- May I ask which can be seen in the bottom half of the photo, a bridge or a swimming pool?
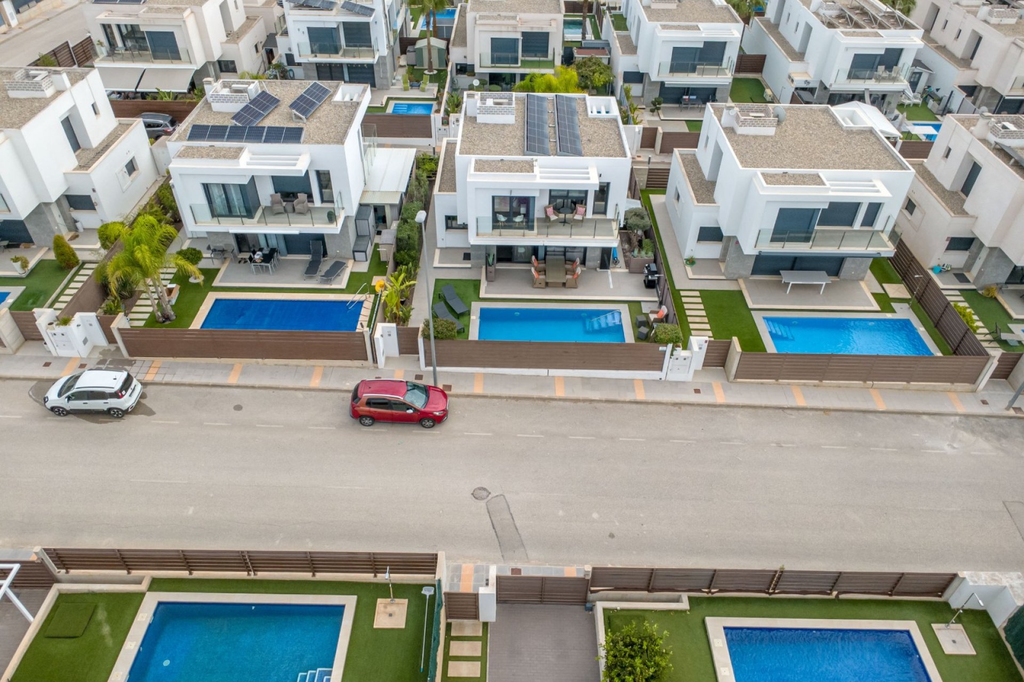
swimming pool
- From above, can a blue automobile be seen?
No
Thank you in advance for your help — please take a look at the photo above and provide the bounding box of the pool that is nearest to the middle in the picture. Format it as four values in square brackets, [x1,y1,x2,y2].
[469,302,636,343]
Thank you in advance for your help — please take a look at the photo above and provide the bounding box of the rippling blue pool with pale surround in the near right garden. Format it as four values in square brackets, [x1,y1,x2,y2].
[707,617,942,682]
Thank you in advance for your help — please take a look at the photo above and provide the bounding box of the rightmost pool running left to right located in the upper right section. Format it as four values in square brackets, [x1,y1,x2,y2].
[900,121,945,137]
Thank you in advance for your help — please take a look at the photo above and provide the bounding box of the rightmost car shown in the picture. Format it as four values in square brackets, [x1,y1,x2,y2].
[346,378,450,430]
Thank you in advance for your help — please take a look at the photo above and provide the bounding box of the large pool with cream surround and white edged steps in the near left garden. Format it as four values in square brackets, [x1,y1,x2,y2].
[108,591,357,682]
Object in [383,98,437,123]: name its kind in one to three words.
swimming pool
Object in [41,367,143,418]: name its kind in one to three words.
car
